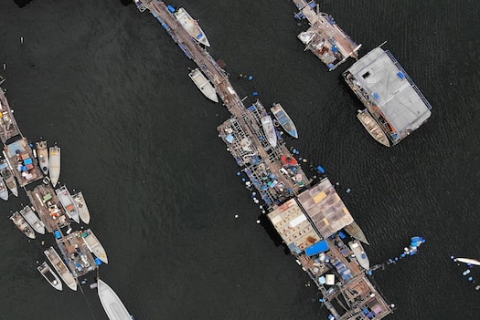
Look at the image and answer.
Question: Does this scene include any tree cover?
No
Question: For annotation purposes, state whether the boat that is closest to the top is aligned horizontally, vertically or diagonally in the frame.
diagonally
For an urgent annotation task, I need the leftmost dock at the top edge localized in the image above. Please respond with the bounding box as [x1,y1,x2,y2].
[141,0,250,122]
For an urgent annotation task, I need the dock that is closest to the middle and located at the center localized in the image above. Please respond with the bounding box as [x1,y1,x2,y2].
[235,108,301,198]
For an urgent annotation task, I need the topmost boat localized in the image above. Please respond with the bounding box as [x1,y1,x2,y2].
[176,7,212,46]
